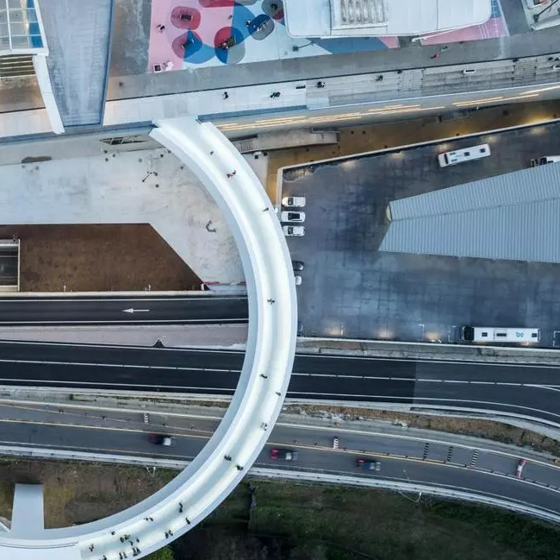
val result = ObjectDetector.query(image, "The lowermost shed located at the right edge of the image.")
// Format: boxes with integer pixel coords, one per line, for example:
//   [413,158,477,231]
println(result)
[378,160,560,266]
